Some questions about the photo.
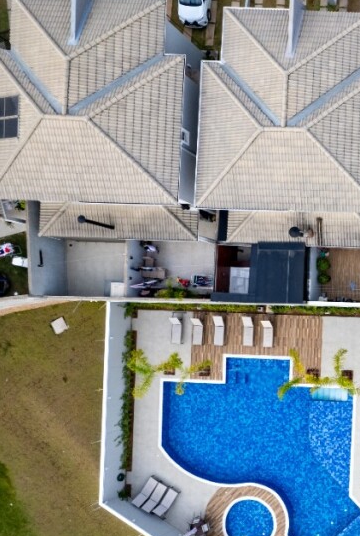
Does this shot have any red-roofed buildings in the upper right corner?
No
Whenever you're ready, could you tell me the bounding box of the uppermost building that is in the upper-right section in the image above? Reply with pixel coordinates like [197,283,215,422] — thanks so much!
[193,0,360,251]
